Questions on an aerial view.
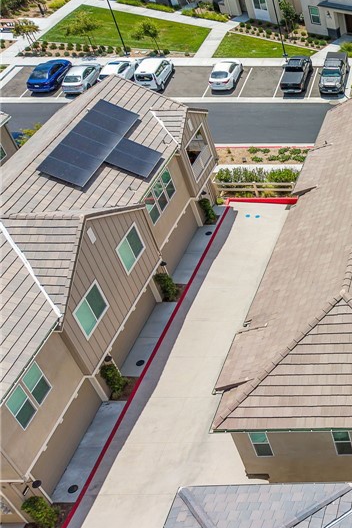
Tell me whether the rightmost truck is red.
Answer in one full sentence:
No, the color of the rightmost truck is gray.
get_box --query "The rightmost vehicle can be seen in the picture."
[316,51,349,91]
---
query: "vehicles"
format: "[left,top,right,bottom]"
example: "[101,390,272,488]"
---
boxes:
[209,58,245,89]
[94,59,139,84]
[134,54,175,86]
[316,51,349,91]
[59,60,104,92]
[277,53,312,91]
[26,59,70,91]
